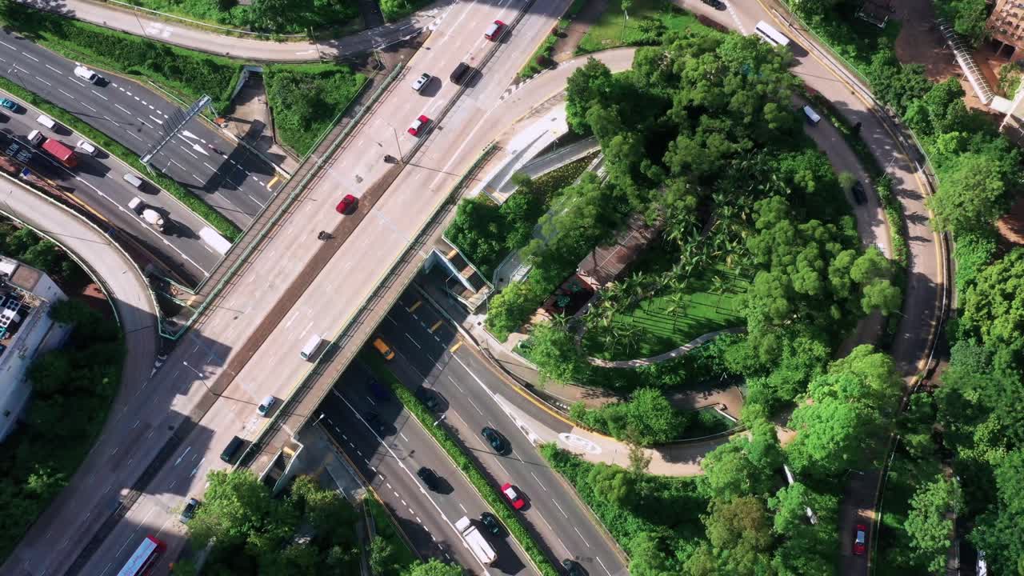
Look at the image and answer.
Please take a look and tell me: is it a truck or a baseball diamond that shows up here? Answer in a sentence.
This aerial view contains a truck.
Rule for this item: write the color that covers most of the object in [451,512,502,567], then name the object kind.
white truck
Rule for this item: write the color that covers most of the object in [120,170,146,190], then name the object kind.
white vehicle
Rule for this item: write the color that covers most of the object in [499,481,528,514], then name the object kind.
red car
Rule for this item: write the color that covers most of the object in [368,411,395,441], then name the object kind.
black car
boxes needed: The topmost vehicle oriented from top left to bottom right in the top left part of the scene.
[71,62,101,84]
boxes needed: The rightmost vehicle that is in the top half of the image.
[848,181,868,207]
